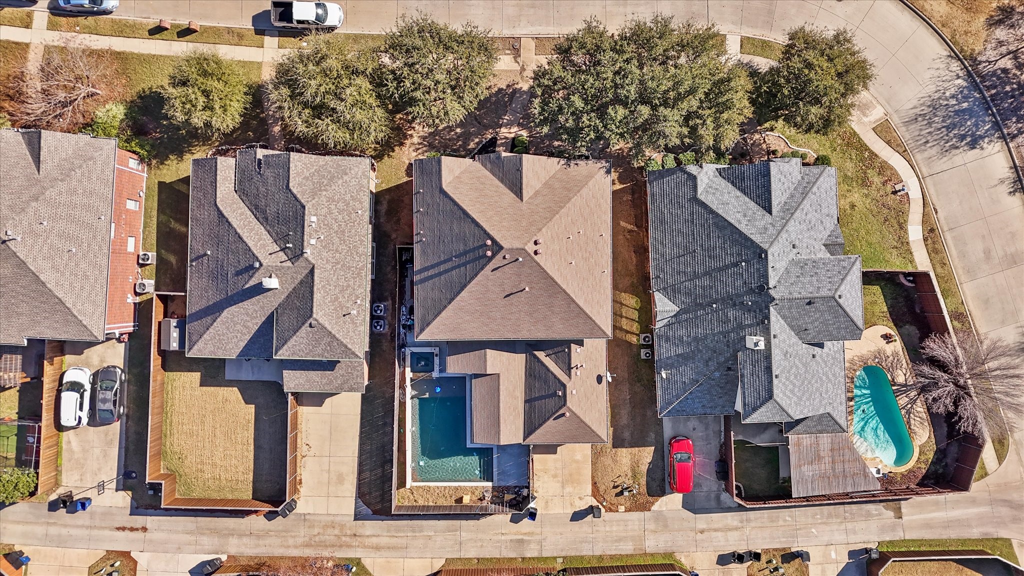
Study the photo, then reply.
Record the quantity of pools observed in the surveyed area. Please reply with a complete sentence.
The number of pools here is 2.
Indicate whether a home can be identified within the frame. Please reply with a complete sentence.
Yes, a home appears in the view.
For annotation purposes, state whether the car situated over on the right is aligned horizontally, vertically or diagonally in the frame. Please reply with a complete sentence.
The car situated over on the right is laid out vertically.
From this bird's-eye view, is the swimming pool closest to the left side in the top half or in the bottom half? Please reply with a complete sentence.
The swimming pool closest to the left side is in the bottom half of the image.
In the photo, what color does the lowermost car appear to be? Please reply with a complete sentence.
The lowermost car is red.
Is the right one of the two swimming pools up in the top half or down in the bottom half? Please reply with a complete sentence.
You can find the right one of the two swimming pools in the bottom half.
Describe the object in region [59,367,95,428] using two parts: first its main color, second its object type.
white car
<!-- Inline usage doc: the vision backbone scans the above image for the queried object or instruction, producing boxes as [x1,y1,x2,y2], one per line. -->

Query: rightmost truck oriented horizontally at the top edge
[270,0,343,31]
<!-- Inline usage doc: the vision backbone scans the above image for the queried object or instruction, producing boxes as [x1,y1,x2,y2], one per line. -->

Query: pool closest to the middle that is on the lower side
[405,346,496,488]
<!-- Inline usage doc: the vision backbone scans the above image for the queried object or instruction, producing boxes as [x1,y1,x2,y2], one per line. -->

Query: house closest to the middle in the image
[413,154,613,445]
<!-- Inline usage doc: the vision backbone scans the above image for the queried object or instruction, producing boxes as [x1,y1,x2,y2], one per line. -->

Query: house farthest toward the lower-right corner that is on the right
[646,158,865,435]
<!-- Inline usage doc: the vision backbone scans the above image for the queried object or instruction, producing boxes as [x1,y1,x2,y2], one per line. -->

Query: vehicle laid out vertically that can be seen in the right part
[668,436,697,495]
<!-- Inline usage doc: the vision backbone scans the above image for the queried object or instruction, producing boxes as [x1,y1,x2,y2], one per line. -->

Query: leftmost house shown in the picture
[0,129,147,346]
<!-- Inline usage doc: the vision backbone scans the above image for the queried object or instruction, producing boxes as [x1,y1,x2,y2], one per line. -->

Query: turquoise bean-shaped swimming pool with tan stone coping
[849,361,919,471]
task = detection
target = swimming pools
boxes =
[849,361,919,471]
[405,346,496,488]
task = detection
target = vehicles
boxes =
[59,367,95,428]
[270,0,343,31]
[95,367,127,424]
[668,436,697,495]
[59,0,122,16]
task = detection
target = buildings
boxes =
[186,148,378,392]
[413,154,613,445]
[646,158,865,435]
[0,129,147,346]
